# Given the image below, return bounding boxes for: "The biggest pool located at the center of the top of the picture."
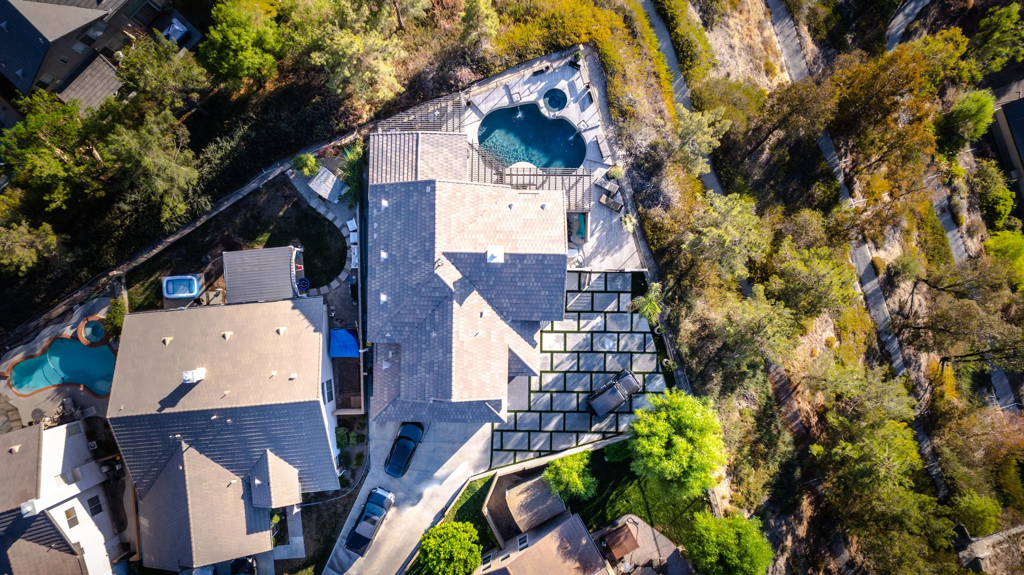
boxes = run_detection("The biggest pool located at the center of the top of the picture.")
[475,100,589,178]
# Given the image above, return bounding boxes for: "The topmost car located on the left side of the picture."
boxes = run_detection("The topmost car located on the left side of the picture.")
[383,423,422,483]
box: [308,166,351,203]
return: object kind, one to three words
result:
shed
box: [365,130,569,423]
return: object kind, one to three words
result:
house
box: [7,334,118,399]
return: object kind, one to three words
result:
swimming pool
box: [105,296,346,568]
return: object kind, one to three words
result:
house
